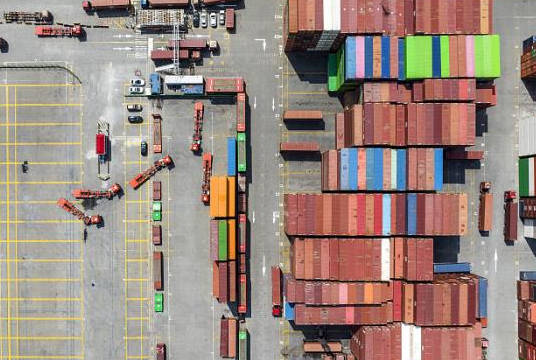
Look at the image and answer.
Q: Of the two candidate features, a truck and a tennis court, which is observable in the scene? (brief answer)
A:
truck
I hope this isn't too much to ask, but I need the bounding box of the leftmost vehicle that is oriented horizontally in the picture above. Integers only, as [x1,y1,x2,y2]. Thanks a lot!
[3,10,53,22]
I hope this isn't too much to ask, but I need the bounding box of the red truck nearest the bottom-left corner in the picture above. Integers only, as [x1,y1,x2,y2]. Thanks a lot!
[58,198,103,226]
